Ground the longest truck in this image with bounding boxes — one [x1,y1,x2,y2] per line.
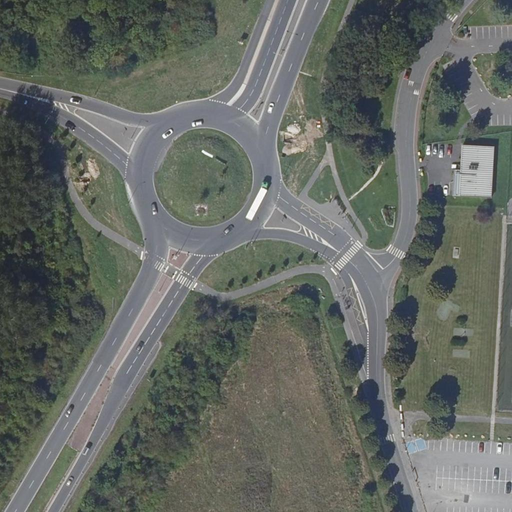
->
[248,178,270,218]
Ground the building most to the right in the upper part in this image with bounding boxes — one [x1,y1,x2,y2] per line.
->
[454,144,495,196]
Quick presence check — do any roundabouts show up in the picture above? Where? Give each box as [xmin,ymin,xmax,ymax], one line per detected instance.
[132,105,276,249]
